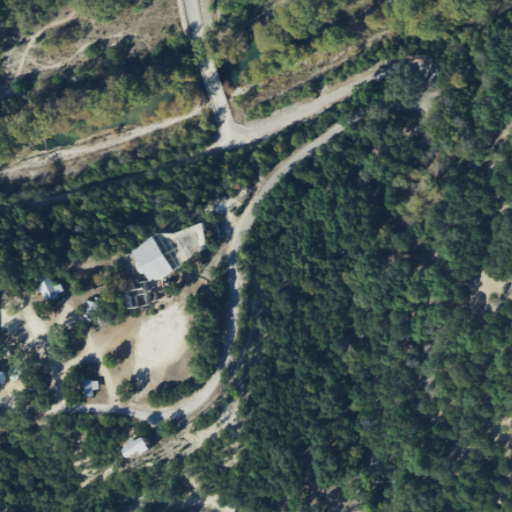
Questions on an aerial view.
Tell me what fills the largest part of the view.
trees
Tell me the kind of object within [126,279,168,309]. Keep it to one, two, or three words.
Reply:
building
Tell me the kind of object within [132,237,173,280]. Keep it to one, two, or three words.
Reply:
building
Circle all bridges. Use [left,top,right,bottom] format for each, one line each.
[196,44,225,103]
